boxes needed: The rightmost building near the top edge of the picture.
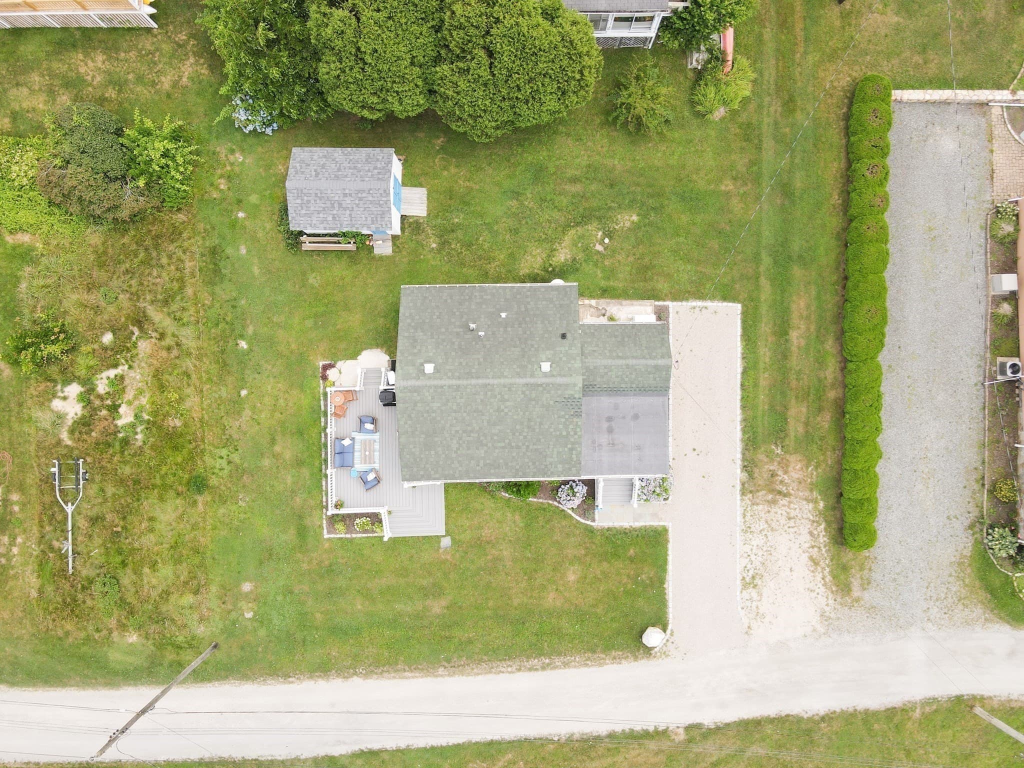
[587,0,676,50]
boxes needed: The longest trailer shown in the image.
[49,458,90,574]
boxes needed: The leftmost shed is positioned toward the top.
[284,148,401,235]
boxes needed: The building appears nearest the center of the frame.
[395,281,679,485]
